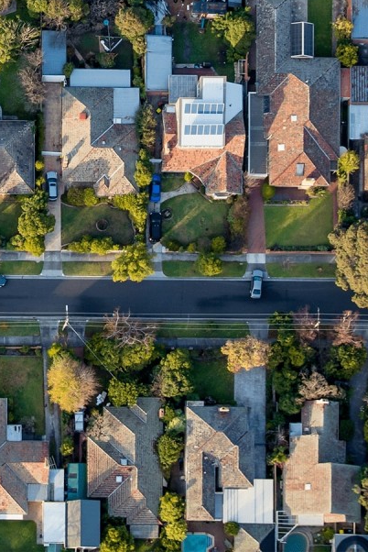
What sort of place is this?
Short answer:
residential area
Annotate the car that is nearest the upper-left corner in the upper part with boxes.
[45,172,58,200]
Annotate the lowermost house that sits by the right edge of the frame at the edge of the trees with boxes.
[282,397,362,527]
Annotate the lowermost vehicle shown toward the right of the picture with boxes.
[250,270,264,299]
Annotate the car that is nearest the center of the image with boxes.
[149,213,162,244]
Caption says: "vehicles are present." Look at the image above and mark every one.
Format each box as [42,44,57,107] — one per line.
[250,270,264,299]
[150,175,163,203]
[45,172,58,200]
[0,276,6,289]
[149,213,162,244]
